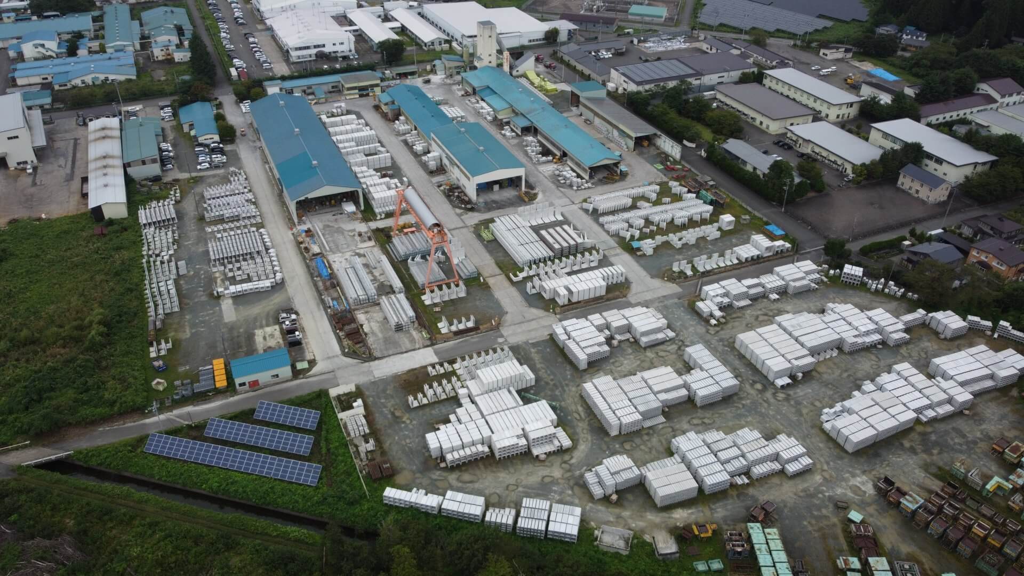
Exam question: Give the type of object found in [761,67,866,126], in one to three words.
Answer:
building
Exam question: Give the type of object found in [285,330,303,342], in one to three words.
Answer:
vehicle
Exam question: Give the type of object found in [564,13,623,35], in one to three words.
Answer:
building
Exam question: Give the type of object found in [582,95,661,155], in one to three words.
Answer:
shed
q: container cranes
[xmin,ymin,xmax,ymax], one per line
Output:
[400,180,461,289]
